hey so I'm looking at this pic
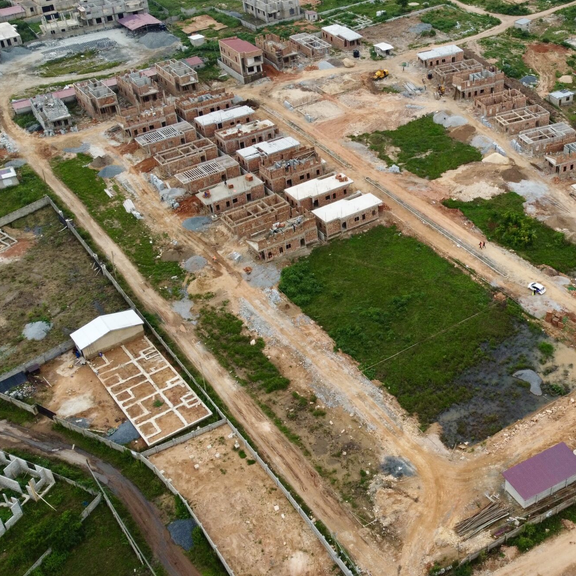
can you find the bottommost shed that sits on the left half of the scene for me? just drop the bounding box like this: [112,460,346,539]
[70,310,145,363]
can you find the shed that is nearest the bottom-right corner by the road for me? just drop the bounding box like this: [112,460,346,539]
[502,442,576,511]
